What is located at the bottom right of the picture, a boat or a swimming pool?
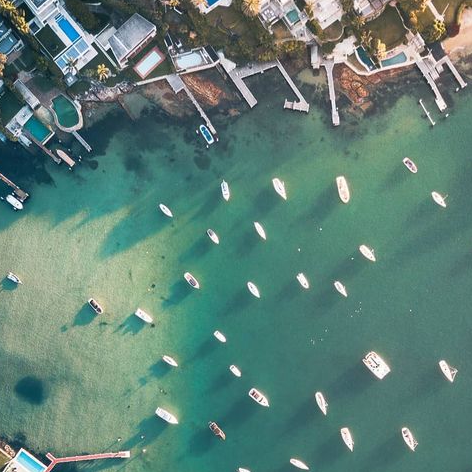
boat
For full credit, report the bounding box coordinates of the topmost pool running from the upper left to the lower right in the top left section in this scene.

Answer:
[48,4,85,49]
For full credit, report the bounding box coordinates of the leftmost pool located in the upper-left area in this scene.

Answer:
[24,113,55,145]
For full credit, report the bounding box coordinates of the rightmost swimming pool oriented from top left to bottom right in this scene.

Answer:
[355,45,378,73]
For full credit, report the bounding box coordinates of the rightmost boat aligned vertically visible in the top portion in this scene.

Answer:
[336,173,349,202]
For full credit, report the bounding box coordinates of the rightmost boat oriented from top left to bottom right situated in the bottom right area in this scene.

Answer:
[439,359,456,382]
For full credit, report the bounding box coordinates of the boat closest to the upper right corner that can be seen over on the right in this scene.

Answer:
[402,156,417,172]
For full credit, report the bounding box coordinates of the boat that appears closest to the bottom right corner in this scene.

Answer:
[402,427,417,452]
